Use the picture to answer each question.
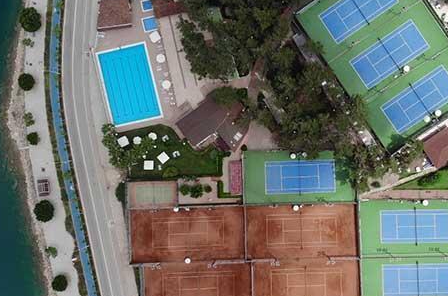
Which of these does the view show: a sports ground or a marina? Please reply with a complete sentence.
It's a sports ground.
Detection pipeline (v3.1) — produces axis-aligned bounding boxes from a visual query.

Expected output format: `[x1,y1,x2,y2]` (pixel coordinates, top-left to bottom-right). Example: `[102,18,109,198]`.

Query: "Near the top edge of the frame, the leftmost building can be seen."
[97,0,135,29]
